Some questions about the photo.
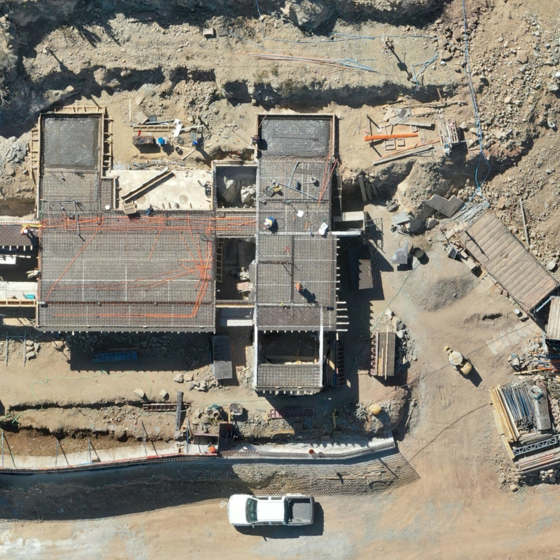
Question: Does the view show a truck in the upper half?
No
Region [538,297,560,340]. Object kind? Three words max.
shed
